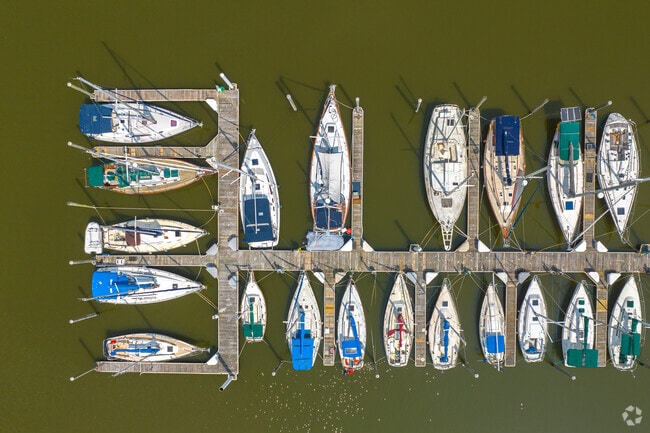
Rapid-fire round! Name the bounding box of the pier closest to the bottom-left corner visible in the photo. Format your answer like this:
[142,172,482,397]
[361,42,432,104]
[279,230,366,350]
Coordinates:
[96,361,217,374]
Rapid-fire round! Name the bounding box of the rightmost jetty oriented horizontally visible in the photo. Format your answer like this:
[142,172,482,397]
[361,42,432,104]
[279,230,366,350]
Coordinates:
[239,250,650,272]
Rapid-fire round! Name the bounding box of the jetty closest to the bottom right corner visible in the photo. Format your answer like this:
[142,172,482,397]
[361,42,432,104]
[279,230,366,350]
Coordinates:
[595,272,608,368]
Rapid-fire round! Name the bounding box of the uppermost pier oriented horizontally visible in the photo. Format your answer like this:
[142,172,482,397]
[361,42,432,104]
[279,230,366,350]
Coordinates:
[95,89,217,102]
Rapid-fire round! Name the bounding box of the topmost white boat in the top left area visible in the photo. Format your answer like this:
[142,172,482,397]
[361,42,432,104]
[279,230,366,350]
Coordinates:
[71,75,201,142]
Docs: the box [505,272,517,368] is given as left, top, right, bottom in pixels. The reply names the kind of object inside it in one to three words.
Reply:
pier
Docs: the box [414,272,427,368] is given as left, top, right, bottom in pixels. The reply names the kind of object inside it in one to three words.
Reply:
pier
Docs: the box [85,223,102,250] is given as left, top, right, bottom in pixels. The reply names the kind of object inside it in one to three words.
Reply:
boat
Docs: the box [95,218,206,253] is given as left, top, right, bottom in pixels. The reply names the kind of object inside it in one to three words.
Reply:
boat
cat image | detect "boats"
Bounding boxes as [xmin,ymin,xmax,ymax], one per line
[281,273,321,370]
[337,281,366,375]
[71,75,201,142]
[228,272,267,346]
[309,85,350,231]
[85,223,102,250]
[560,282,650,369]
[479,272,508,371]
[550,109,650,248]
[79,150,219,192]
[95,218,206,253]
[425,103,475,250]
[74,266,206,304]
[383,275,415,366]
[211,129,278,248]
[429,283,468,370]
[485,115,553,247]
[103,334,209,377]
[304,230,347,251]
[517,276,592,363]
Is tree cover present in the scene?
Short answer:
No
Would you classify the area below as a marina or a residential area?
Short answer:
marina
